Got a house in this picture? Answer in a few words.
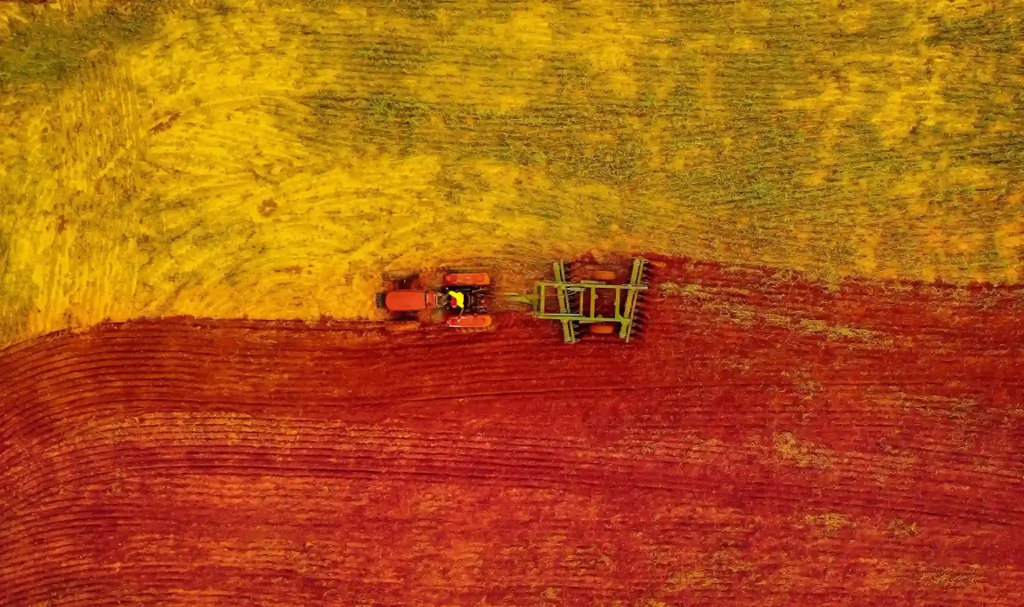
No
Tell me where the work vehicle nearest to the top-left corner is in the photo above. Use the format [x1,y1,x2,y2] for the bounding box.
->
[375,267,501,333]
